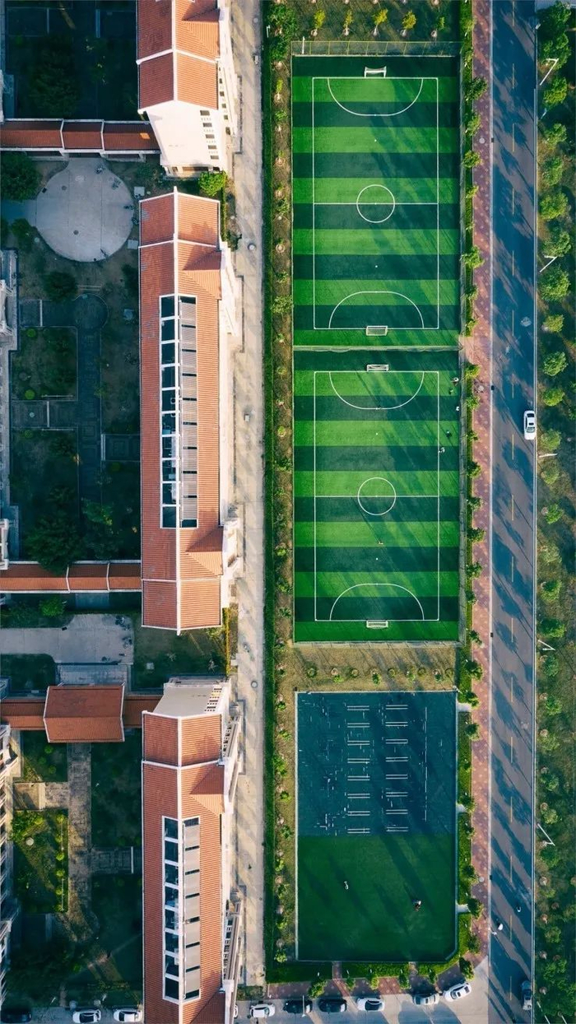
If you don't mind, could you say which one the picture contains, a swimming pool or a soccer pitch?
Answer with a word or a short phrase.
soccer pitch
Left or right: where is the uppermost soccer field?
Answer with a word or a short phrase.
right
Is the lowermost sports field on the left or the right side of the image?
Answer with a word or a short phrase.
right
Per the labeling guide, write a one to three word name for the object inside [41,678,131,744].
building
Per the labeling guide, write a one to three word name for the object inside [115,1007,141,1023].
car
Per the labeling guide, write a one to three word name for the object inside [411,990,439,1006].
car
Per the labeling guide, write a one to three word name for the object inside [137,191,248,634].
building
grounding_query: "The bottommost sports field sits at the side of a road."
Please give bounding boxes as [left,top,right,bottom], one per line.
[294,689,461,962]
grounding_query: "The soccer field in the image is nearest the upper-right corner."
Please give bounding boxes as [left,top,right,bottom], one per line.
[294,56,459,348]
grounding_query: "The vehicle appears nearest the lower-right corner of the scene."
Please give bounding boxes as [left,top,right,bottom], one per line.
[521,979,535,1009]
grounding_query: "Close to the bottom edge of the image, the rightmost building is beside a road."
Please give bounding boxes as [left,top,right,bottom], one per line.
[140,670,250,1024]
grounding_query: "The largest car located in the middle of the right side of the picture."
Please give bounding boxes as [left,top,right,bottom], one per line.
[522,411,534,439]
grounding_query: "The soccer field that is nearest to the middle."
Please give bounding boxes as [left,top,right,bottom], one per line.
[294,349,459,642]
